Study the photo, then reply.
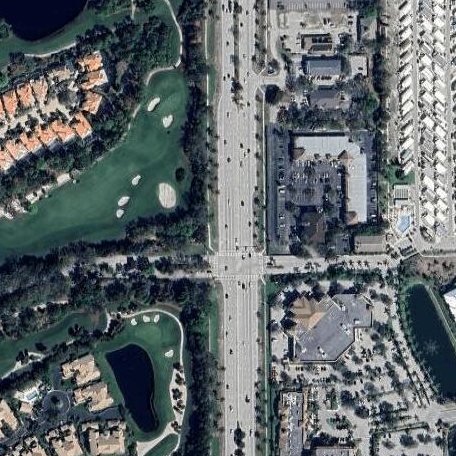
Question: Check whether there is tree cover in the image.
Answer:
Yes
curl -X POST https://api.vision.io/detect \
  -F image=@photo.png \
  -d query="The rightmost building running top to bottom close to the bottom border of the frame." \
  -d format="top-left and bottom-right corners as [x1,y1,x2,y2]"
[279,392,308,456]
